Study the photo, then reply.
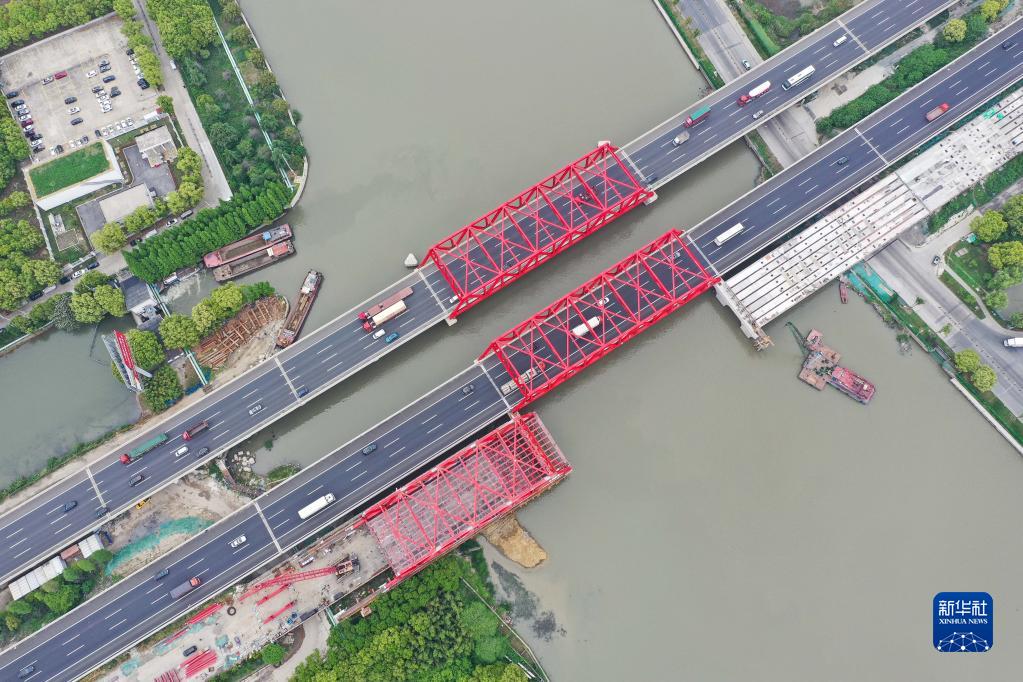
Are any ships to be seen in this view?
Yes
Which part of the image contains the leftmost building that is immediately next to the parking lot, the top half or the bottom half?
top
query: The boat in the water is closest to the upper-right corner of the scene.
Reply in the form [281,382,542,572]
[836,282,849,304]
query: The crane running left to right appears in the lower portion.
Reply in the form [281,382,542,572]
[239,553,362,601]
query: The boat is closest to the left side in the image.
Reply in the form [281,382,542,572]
[164,266,202,288]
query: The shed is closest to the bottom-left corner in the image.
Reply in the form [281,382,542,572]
[10,556,67,600]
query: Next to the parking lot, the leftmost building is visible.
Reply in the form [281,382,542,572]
[24,139,121,208]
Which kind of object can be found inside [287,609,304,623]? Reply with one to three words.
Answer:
vehicle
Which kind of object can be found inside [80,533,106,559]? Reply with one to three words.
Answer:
shed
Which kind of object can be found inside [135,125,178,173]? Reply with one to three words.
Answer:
house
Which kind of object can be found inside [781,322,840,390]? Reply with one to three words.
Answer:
ship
